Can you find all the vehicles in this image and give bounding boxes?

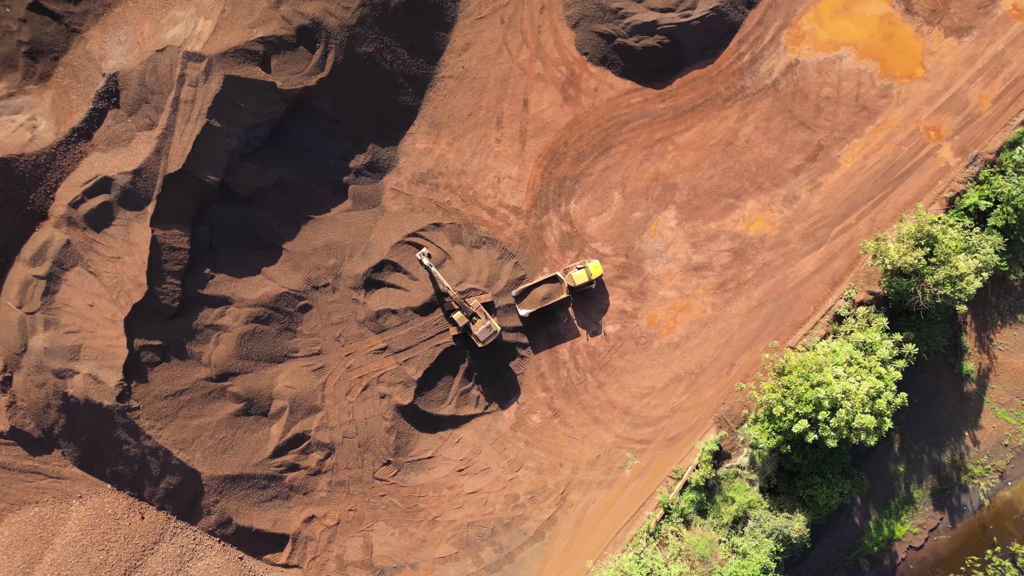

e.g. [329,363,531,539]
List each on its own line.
[510,254,605,321]
[410,244,500,347]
